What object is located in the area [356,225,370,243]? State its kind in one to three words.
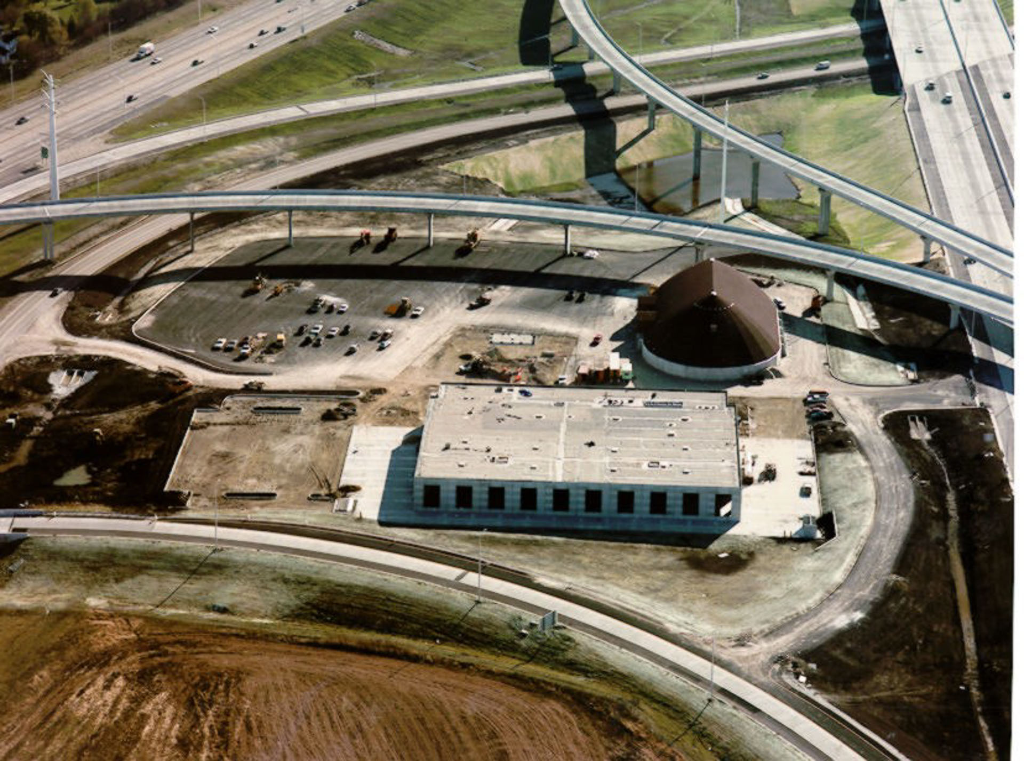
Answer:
work vehicle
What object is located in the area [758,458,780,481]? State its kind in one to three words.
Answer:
work vehicle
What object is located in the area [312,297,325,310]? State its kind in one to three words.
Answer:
vehicle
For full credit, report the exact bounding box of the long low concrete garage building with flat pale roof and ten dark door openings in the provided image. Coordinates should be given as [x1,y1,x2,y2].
[414,384,741,521]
